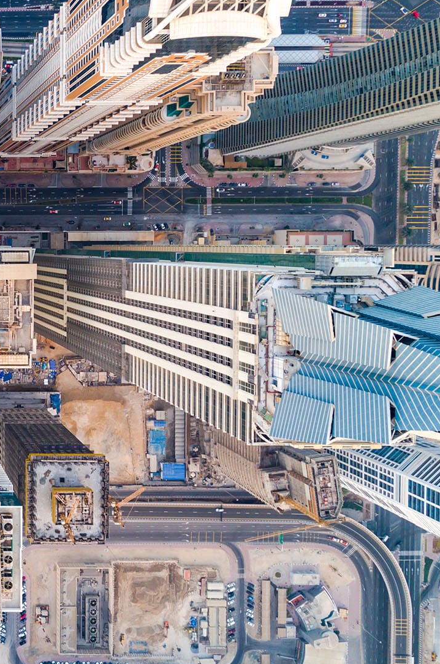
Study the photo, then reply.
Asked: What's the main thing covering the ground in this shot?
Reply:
buildings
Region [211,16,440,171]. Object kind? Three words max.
building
